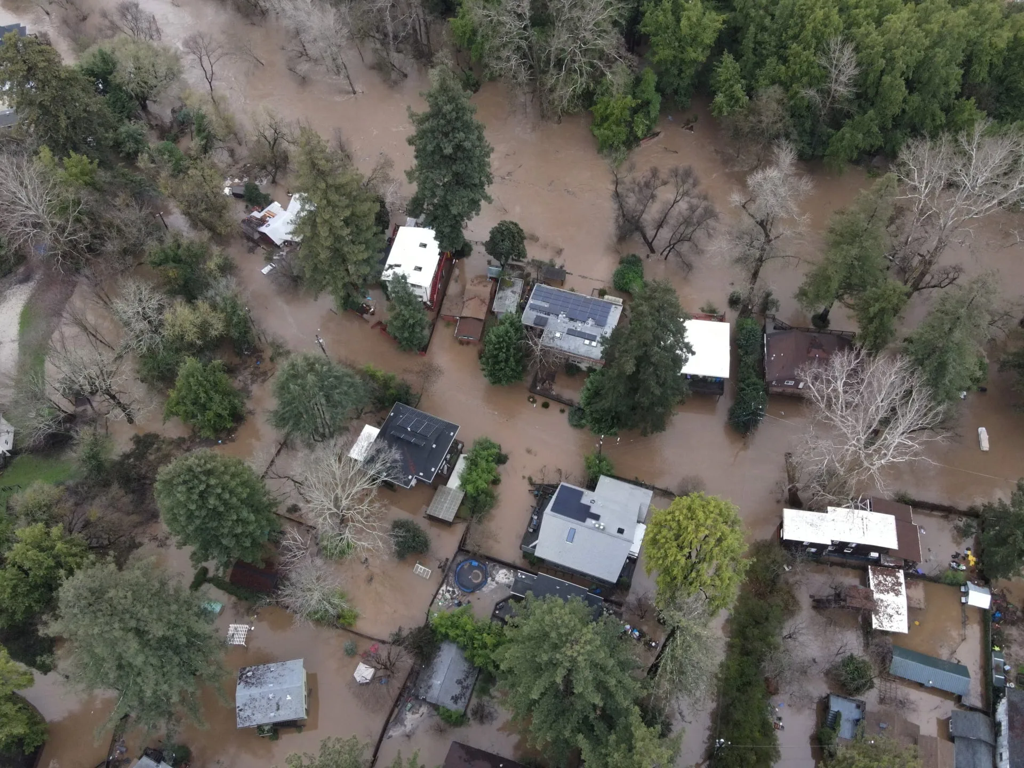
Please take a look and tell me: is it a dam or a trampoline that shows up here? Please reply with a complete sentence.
This aerial view contains a trampoline.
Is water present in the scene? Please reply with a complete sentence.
Yes, the picture does contain water.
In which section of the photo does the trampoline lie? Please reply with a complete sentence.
Look in the bottom portion of the view to spot the trampoline.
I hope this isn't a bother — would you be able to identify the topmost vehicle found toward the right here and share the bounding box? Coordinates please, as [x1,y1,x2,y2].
[975,427,992,454]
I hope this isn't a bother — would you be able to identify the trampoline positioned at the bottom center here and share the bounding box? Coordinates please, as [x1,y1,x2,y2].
[455,560,488,592]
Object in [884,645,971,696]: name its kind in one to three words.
shed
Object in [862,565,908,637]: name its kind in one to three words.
house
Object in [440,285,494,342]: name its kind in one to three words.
building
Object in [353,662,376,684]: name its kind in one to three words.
tent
